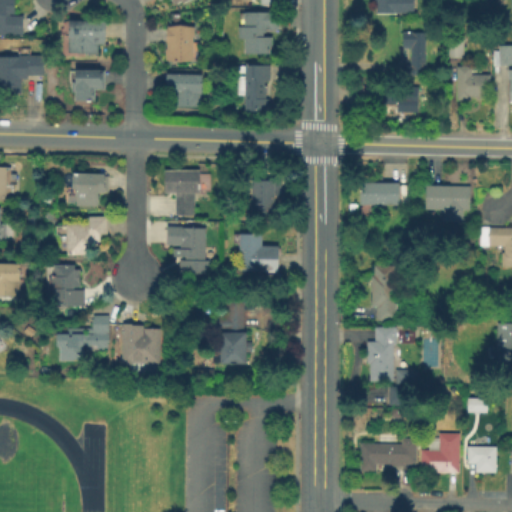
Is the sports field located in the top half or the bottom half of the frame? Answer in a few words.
bottom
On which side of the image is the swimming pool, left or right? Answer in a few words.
right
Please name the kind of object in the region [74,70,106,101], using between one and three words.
house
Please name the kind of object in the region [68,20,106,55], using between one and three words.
house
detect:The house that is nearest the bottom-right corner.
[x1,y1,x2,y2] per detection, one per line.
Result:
[468,446,498,474]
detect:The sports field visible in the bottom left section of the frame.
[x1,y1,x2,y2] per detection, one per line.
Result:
[0,418,81,512]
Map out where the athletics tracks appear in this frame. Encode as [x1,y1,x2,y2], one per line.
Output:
[0,399,106,512]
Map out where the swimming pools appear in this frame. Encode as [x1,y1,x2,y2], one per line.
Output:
[420,334,443,370]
